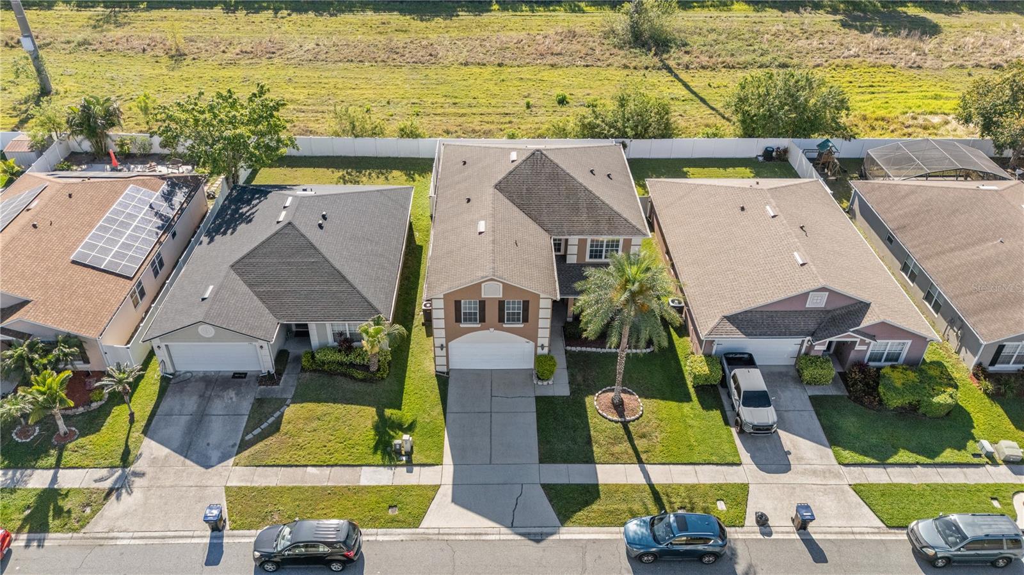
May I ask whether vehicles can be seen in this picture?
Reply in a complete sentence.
Yes, there is a vehicle in the image.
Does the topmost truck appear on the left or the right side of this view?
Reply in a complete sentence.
The topmost truck sits on the right side.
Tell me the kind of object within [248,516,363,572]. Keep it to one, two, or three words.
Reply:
car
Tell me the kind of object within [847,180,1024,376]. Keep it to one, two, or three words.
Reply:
house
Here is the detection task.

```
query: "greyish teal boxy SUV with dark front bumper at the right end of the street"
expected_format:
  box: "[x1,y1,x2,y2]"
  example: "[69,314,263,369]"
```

[908,513,1024,570]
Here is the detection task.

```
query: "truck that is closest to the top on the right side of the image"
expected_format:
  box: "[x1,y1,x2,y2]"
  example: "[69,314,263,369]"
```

[721,352,785,439]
